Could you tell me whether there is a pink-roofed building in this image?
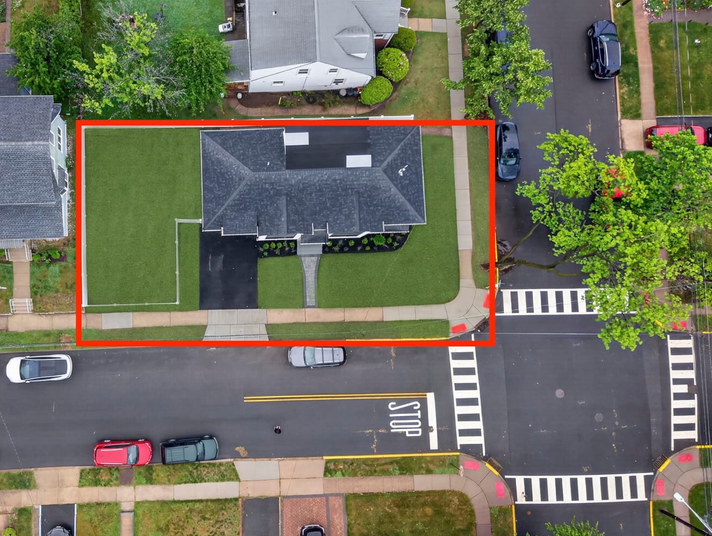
No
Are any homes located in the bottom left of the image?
No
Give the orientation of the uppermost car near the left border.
from side to side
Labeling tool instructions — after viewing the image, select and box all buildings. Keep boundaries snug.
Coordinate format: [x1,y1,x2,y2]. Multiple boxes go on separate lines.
[0,52,76,261]
[199,123,428,255]
[224,0,401,98]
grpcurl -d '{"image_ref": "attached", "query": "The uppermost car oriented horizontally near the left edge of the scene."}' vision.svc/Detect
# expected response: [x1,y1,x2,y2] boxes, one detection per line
[5,354,74,384]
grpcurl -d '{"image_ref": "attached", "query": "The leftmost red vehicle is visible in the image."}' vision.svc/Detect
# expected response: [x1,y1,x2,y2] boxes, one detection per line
[92,438,156,469]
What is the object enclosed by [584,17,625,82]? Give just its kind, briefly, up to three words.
car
